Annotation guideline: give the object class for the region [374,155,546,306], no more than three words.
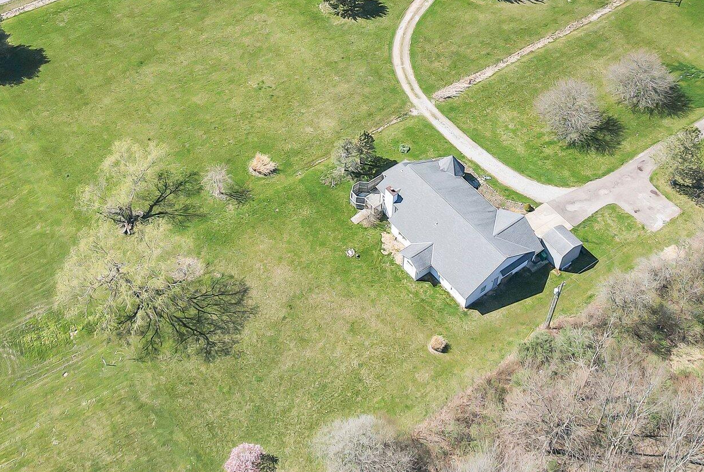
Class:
house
